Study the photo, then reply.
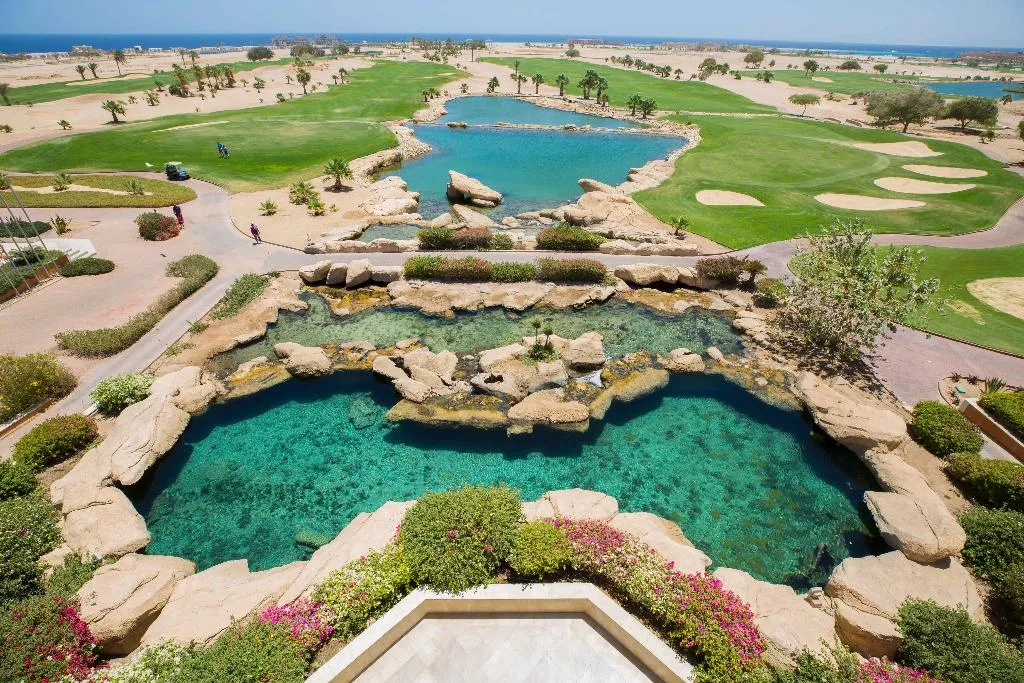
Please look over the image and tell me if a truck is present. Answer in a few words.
No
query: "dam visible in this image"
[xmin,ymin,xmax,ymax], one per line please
[411,122,650,137]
